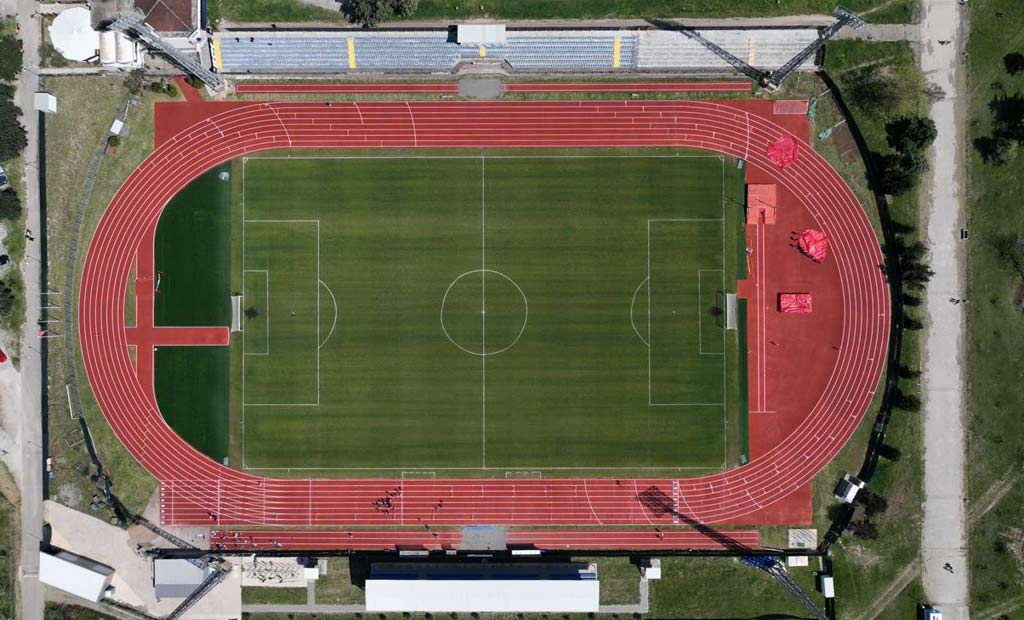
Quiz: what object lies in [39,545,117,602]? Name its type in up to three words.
building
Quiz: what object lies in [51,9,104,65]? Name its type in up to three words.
tent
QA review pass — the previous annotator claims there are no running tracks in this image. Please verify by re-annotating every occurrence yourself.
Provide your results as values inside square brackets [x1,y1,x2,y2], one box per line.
[78,77,891,526]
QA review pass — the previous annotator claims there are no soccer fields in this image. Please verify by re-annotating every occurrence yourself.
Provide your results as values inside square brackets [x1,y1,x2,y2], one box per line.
[229,147,739,479]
